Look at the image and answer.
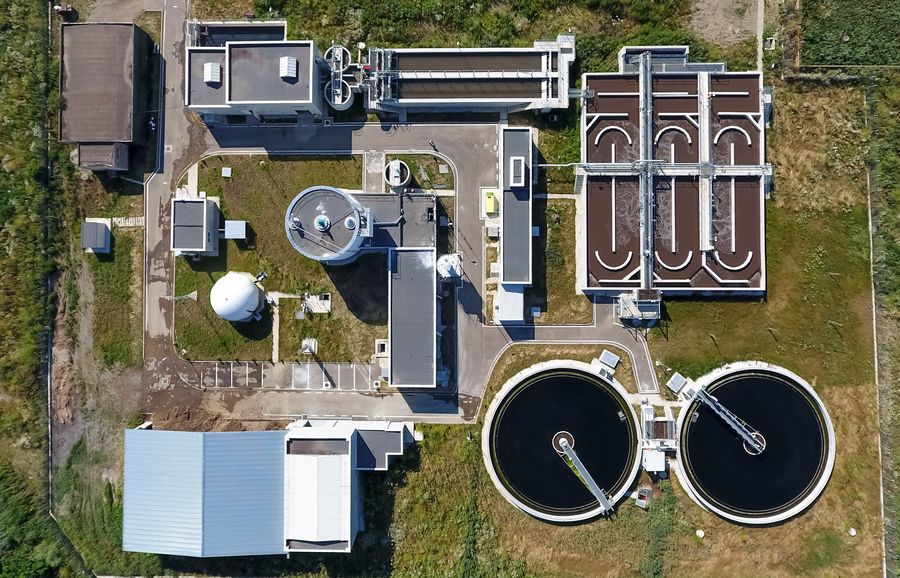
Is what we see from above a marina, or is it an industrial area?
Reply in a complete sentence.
What you see here is an industrial area.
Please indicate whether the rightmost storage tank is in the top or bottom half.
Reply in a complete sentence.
Seen from above, the rightmost storage tank lies in the bottom half of the view.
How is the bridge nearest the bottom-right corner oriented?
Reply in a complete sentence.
The bridge nearest the bottom-right corner is laid out on a diagonal.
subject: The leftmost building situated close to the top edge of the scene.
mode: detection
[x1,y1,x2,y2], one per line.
[61,23,149,148]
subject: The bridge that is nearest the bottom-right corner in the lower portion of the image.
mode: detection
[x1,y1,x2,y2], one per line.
[693,385,766,456]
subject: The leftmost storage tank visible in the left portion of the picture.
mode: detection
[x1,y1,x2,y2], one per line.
[208,269,267,322]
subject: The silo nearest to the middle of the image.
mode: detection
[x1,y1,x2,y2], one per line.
[437,252,463,287]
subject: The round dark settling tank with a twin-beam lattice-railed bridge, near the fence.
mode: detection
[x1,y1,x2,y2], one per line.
[671,359,834,522]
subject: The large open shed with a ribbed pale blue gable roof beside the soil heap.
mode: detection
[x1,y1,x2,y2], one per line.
[123,418,295,558]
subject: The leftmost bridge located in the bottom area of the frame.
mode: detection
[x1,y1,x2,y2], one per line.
[558,436,613,517]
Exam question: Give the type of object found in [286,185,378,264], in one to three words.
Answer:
storage tank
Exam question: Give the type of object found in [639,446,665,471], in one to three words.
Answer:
shed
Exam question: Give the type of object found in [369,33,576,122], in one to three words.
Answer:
storage tank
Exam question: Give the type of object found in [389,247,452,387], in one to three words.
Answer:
building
